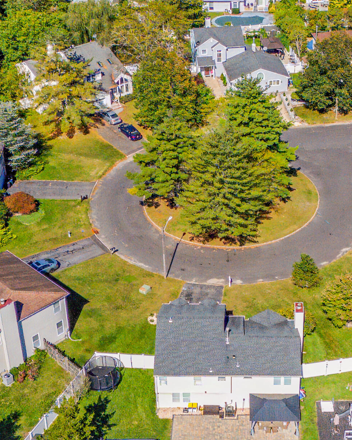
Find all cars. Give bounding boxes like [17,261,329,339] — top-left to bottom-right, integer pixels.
[120,124,145,139]
[32,256,63,274]
[100,108,124,123]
